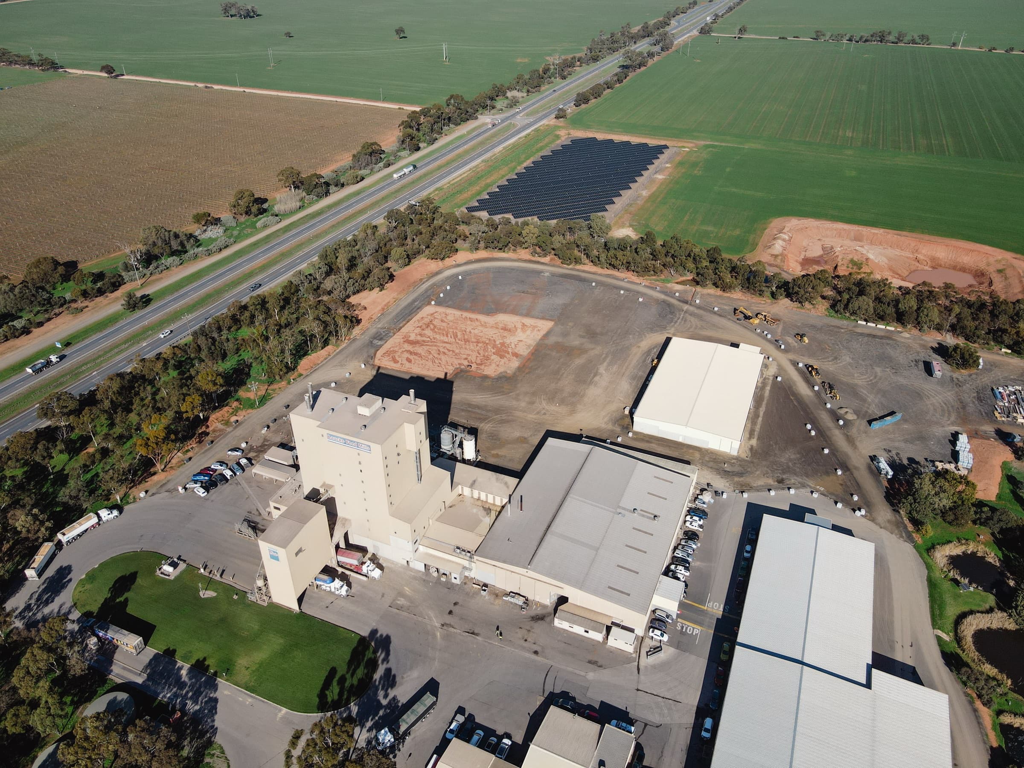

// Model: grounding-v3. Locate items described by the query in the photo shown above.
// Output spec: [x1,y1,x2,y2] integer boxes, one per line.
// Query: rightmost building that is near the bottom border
[708,513,954,768]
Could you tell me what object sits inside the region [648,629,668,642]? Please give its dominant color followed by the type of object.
white vehicle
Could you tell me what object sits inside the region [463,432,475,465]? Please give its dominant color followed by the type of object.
white silo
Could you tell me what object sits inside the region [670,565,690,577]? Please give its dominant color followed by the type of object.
white vehicle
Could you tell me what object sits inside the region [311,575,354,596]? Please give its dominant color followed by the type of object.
white truck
